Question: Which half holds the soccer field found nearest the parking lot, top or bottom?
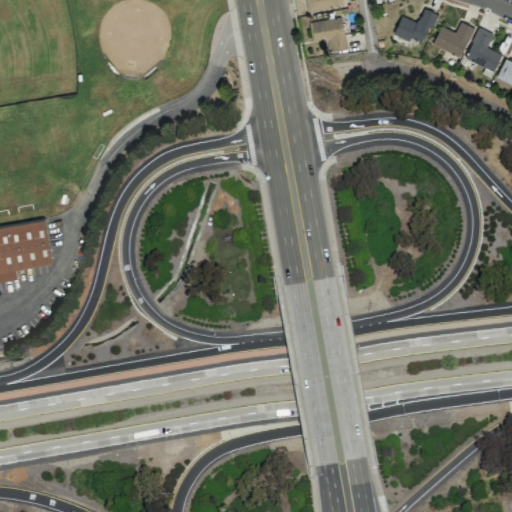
top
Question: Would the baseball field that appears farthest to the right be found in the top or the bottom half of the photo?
top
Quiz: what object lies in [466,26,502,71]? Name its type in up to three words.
house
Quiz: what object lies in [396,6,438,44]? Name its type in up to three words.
house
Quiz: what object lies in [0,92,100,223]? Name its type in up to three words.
soccer field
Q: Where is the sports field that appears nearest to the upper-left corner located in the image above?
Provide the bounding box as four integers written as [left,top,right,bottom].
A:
[0,0,76,104]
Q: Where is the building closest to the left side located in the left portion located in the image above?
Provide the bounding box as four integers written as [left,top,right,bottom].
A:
[0,220,52,282]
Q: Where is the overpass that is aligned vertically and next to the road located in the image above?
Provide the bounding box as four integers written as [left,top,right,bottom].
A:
[276,276,377,468]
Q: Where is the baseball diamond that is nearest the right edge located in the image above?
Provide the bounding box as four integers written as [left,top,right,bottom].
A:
[71,0,228,150]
